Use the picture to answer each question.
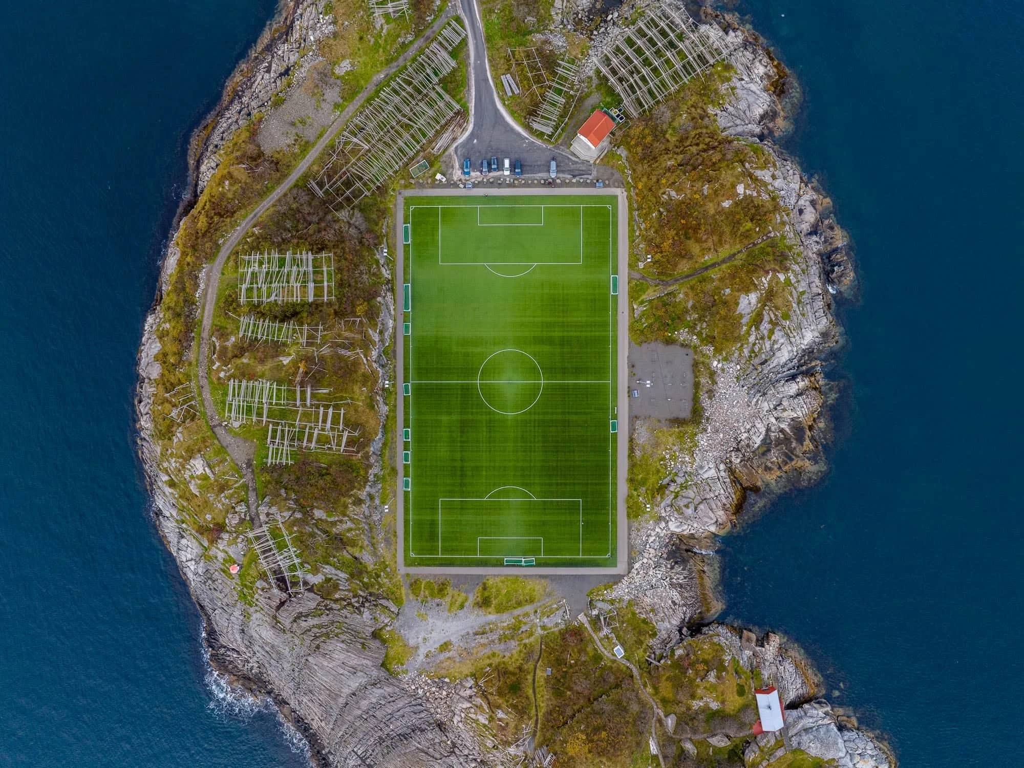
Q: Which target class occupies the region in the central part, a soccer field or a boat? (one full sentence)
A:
The one visible in the central part is a soccer field.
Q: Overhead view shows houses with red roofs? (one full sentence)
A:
Yes, the picture does show a house with a red roof.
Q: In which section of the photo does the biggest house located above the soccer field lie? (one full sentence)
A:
The biggest house located above the soccer field is in the top part of the image.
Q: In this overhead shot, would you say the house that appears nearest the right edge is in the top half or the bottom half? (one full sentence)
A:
Seen from above, the house that appears nearest the right edge lies in the bottom half of the view.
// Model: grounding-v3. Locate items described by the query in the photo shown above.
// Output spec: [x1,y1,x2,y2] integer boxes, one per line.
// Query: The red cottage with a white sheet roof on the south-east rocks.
[752,685,783,730]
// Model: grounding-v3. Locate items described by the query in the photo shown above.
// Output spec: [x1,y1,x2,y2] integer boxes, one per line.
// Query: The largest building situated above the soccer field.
[576,110,616,151]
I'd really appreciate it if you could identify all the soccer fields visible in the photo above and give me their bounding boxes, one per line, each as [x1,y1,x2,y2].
[404,196,618,567]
